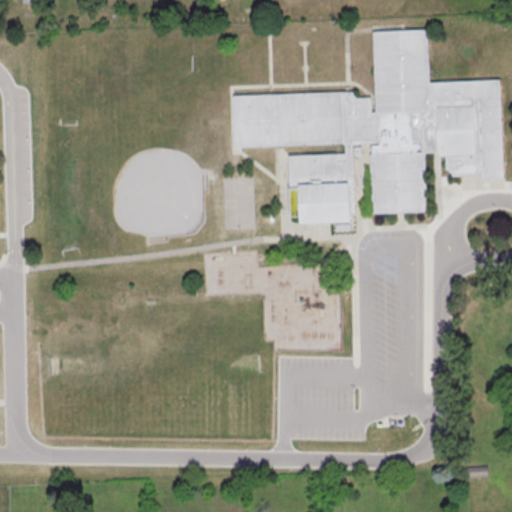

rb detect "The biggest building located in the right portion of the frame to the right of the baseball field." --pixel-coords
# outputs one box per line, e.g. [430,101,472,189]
[232,29,505,232]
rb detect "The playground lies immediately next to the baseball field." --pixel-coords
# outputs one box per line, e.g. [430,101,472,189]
[204,250,342,350]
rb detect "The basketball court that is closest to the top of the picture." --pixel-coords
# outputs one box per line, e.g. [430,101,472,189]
[224,177,256,230]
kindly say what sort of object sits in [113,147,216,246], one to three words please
baseball field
